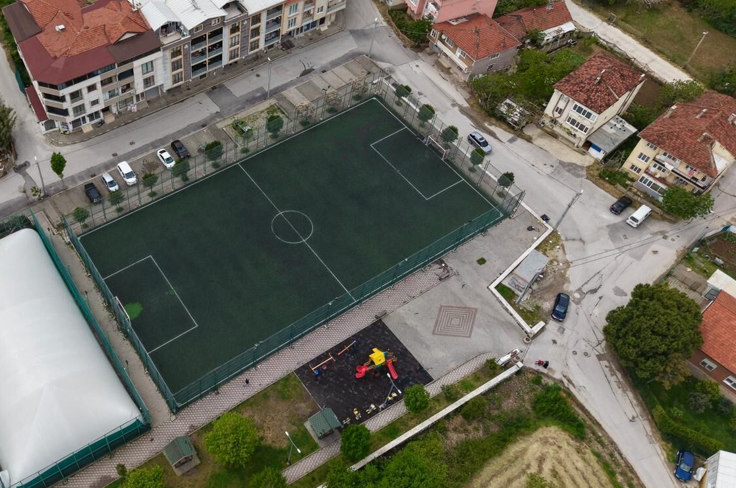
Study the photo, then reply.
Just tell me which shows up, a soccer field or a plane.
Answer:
soccer field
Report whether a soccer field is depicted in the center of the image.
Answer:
Yes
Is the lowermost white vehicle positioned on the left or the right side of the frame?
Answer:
right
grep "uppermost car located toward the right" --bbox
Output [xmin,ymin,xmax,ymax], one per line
[465,130,492,152]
